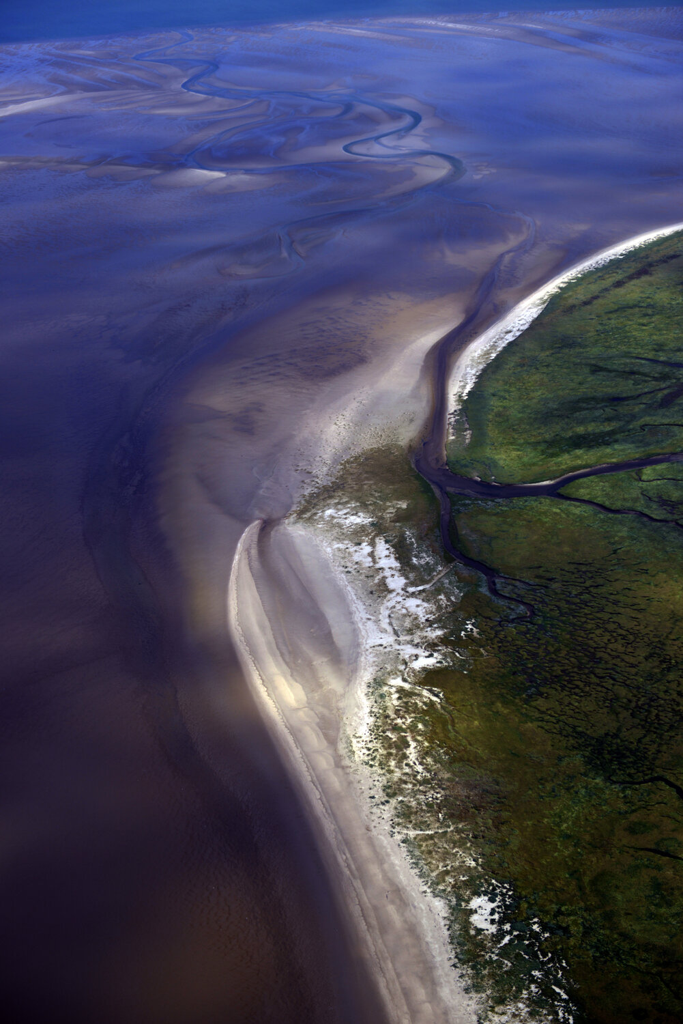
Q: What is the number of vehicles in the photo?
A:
none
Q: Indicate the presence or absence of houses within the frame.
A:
No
